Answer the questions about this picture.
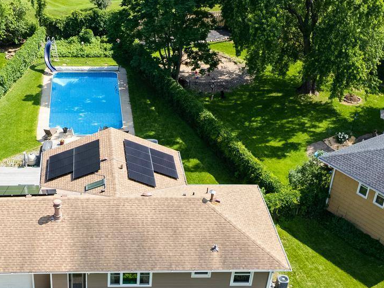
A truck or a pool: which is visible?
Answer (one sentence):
The one in the frame is a pool.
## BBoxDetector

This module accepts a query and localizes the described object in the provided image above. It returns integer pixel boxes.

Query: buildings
[0,127,294,288]
[317,134,384,241]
